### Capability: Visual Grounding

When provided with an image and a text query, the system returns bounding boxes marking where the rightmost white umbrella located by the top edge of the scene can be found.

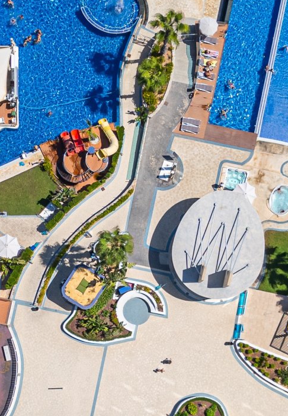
[199,17,217,36]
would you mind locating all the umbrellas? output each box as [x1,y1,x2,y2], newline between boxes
[199,17,217,36]
[235,181,256,201]
[0,234,20,260]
